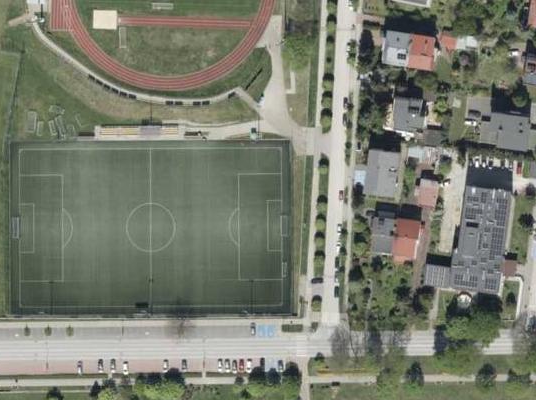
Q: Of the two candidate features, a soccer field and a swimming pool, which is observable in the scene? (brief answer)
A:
soccer field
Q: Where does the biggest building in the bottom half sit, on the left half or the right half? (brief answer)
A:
right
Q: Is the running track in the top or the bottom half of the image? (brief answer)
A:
top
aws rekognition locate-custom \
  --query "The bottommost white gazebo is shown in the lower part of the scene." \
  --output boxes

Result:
[456,291,473,304]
